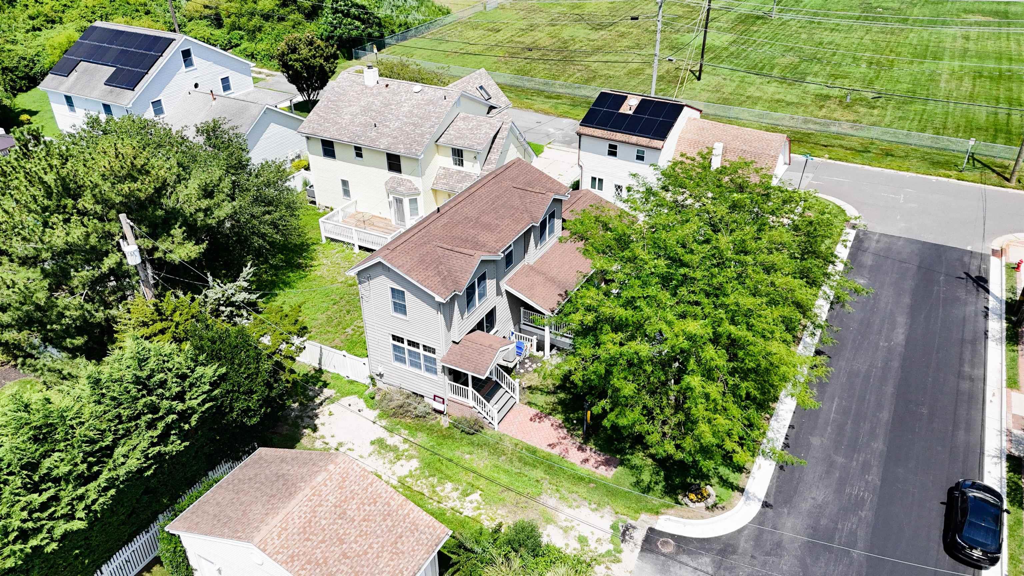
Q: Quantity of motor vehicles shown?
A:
1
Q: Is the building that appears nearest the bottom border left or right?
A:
left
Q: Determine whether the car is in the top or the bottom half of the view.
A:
bottom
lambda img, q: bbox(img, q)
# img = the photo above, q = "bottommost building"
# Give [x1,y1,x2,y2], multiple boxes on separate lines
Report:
[163,448,454,576]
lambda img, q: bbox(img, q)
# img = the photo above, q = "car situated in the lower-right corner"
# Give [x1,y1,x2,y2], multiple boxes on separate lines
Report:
[940,479,1014,573]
